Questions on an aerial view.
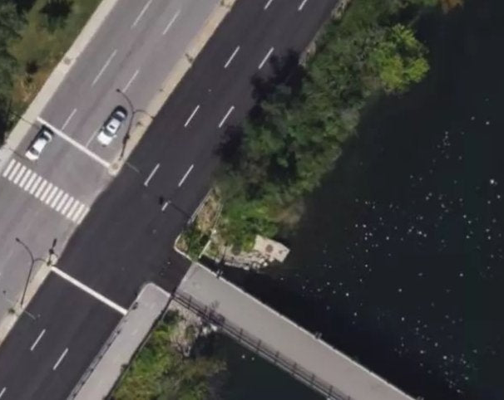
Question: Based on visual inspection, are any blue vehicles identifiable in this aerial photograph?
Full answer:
No, the frame has no blue vehicle in it.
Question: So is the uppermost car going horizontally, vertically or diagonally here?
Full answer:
Seen from above, the uppermost car lies diagonally.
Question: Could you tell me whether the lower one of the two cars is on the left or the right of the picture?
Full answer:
It is on the left.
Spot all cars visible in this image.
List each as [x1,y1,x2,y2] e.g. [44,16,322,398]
[26,129,54,162]
[97,107,128,144]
